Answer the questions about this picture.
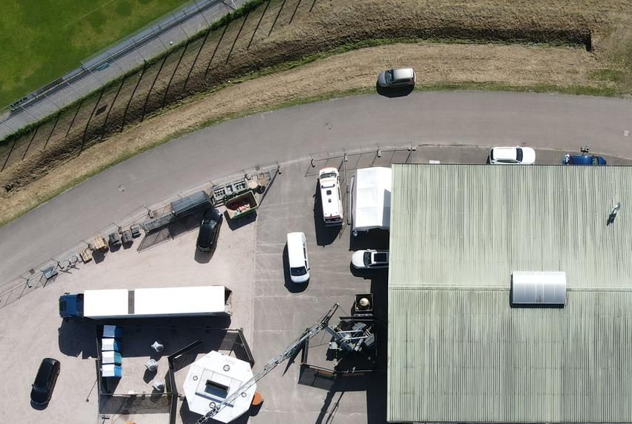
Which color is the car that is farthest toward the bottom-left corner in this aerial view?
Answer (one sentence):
From above, the car that is farthest toward the bottom-left corner appears black.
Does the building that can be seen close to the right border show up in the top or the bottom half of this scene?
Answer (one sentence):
You can find the building that can be seen close to the right border in the bottom half.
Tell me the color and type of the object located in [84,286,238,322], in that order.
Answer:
white trailer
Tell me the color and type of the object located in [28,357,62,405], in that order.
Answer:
black car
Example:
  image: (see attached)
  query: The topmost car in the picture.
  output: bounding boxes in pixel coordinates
[379,67,416,89]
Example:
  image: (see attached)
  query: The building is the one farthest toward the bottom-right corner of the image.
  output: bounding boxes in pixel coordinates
[387,163,632,424]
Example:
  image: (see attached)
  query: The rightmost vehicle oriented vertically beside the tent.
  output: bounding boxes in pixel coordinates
[316,171,344,229]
